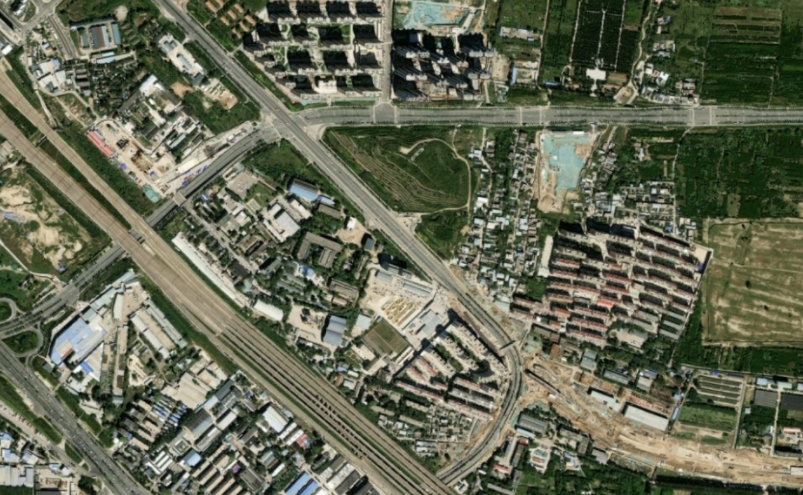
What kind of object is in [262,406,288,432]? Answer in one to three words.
building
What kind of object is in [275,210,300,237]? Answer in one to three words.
building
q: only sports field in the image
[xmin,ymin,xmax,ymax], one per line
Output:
[362,318,405,358]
